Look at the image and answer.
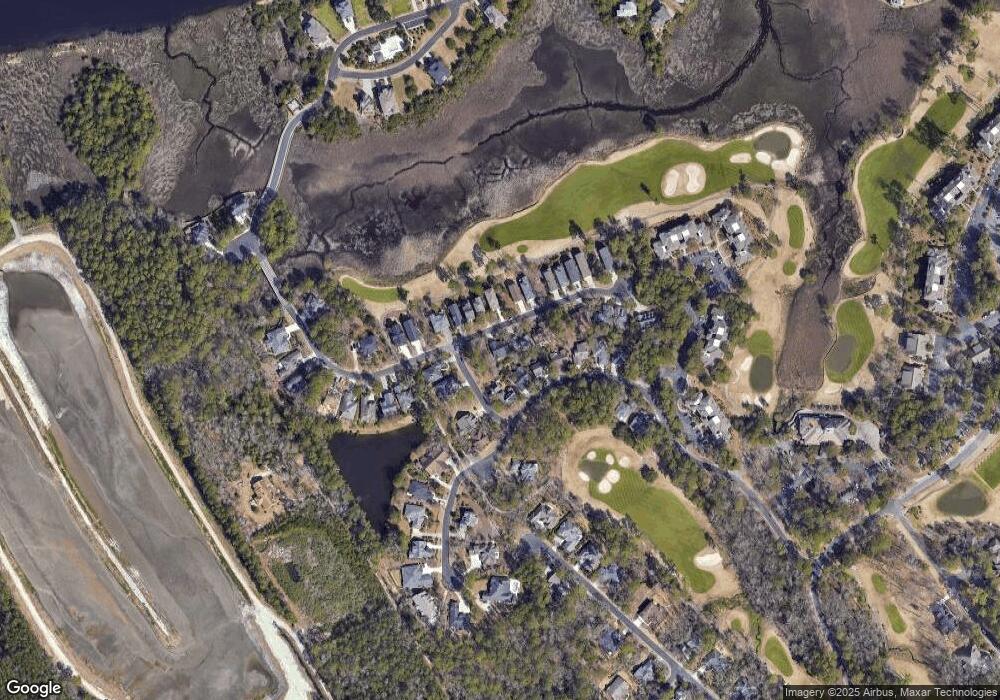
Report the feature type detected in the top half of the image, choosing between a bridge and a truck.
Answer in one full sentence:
The one visible in the top half of the image is a bridge.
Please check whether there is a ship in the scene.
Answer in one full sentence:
No, there is no ship in the image.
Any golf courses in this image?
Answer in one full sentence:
Yes, looking at the shot, I can spot a golf course.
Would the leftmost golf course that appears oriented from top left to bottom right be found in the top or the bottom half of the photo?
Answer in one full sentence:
The bottom half of the photo is where the leftmost golf course that appears oriented from top left to bottom right is.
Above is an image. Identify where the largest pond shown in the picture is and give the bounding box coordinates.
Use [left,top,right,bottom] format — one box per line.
[330,424,424,527]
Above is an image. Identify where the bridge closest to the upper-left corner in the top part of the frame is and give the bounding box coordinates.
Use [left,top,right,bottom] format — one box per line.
[262,111,306,190]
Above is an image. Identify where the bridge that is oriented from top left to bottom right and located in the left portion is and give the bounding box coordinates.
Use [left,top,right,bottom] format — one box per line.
[250,248,289,307]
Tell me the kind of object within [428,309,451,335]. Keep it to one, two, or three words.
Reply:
house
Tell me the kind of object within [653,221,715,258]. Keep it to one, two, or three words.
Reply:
building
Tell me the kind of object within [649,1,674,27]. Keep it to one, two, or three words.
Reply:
house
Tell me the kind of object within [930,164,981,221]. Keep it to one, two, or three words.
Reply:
building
